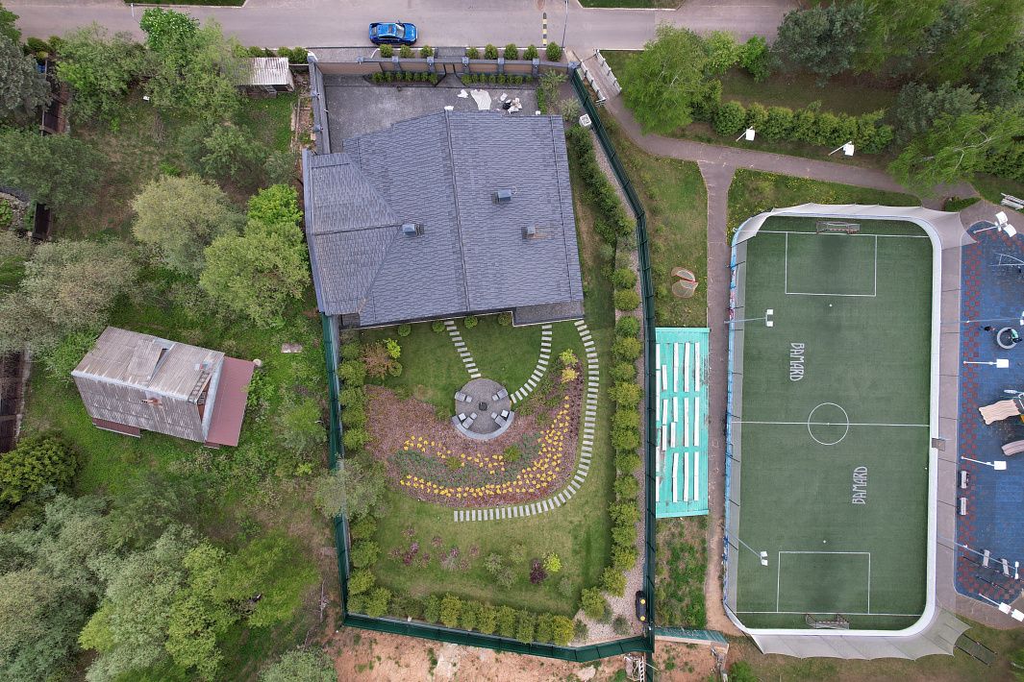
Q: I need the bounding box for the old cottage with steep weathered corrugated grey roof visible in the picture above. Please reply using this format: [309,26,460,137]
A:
[70,327,255,454]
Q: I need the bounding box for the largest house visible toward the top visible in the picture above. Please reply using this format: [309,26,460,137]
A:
[301,104,584,331]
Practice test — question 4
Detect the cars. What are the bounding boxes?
[369,19,417,45]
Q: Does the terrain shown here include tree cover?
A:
Yes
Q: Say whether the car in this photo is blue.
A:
Yes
